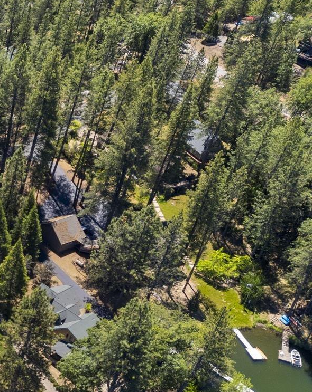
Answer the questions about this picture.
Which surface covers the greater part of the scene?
trees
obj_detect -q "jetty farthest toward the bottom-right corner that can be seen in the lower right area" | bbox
[275,332,291,363]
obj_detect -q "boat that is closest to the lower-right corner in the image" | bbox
[290,348,304,369]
